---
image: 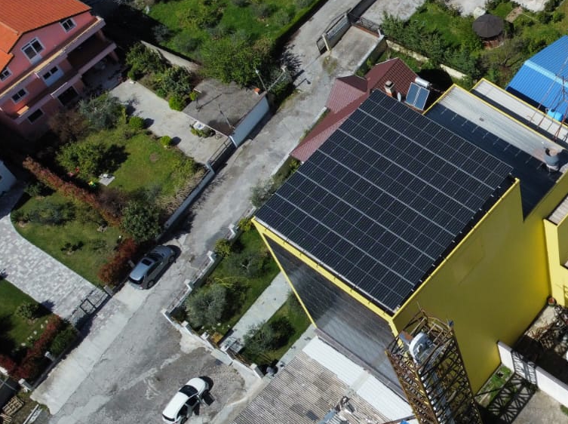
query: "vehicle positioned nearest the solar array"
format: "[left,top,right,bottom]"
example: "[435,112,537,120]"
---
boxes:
[124,241,183,289]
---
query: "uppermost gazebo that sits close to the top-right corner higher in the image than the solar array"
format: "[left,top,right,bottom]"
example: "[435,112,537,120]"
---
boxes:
[465,1,510,45]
